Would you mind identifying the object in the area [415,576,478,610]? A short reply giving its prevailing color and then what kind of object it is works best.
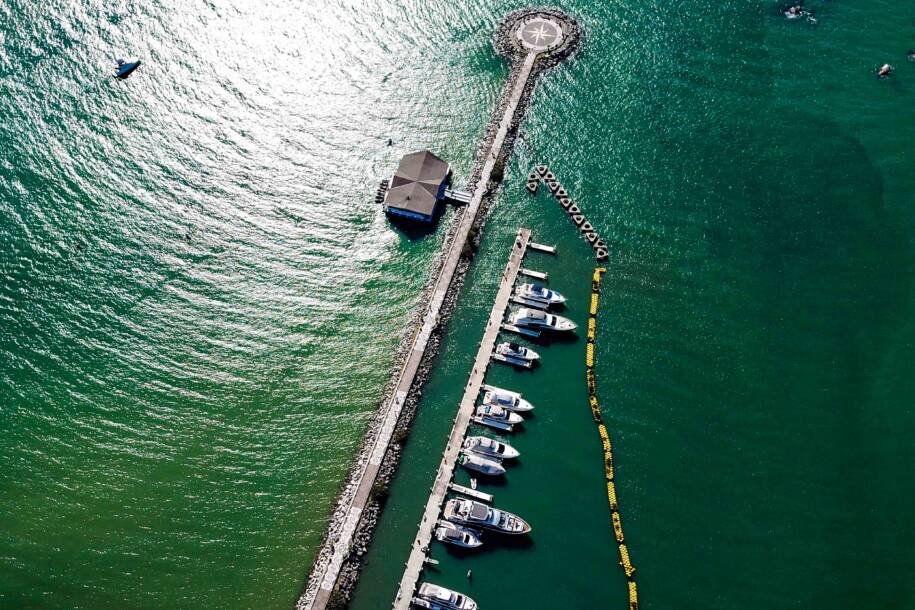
white boat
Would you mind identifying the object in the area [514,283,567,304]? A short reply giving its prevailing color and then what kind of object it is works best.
white boat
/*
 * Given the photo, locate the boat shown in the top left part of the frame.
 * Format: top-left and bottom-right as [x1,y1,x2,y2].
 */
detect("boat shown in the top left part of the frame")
[110,60,139,76]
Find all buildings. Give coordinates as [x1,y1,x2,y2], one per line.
[386,151,454,226]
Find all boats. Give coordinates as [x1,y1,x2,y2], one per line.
[514,283,567,304]
[464,435,521,458]
[458,454,505,473]
[469,405,525,426]
[436,500,532,533]
[478,391,535,412]
[110,60,139,76]
[432,526,483,547]
[415,576,478,610]
[506,308,578,333]
[494,342,541,361]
